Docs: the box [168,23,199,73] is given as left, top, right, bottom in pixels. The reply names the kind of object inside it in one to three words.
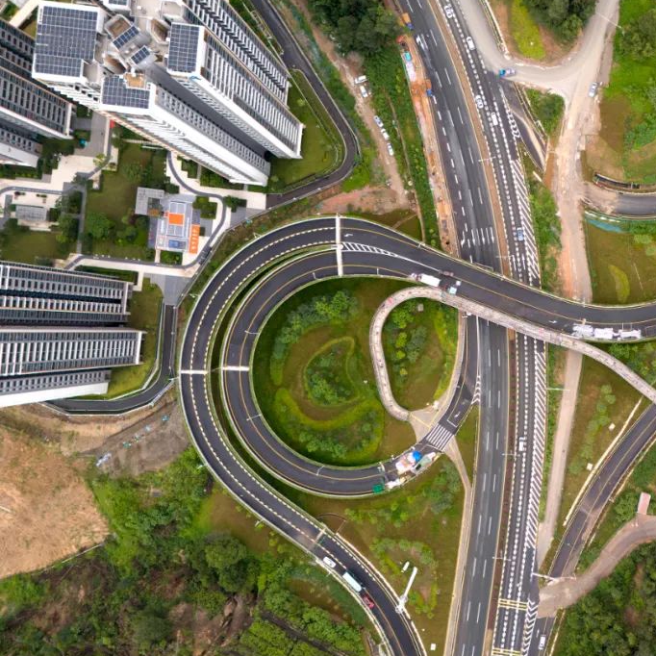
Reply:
solar panel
